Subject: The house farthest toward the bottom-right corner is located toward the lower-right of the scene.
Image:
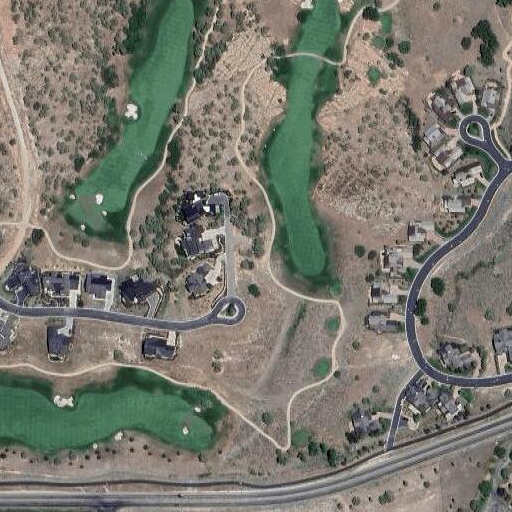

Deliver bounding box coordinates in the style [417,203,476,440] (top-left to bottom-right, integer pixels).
[438,391,463,420]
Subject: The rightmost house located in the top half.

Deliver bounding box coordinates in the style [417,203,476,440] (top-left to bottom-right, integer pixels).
[482,89,500,108]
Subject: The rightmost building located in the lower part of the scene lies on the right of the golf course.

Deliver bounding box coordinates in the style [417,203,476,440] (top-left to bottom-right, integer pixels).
[492,329,512,363]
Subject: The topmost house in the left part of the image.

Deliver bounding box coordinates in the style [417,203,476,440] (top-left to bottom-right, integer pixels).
[181,190,215,225]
